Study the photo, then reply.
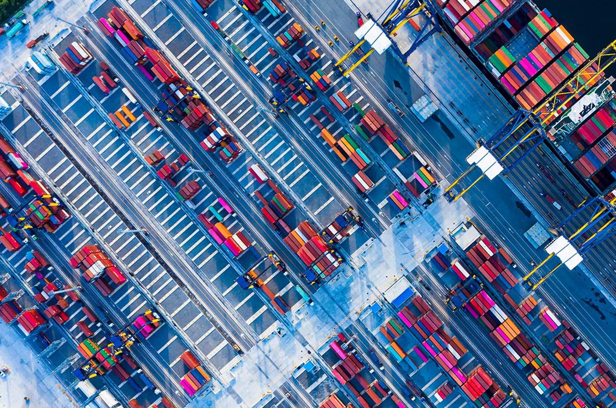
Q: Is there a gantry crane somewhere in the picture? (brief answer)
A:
Yes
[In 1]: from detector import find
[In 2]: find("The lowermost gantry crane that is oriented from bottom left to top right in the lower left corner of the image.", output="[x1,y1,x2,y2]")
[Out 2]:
[72,341,128,381]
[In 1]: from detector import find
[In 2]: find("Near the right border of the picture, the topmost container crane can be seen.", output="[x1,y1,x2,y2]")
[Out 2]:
[442,37,616,205]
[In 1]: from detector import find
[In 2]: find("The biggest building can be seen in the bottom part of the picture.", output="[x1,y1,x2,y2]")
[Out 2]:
[382,278,414,308]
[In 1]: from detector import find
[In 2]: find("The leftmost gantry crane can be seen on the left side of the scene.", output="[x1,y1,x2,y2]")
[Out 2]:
[5,192,63,229]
